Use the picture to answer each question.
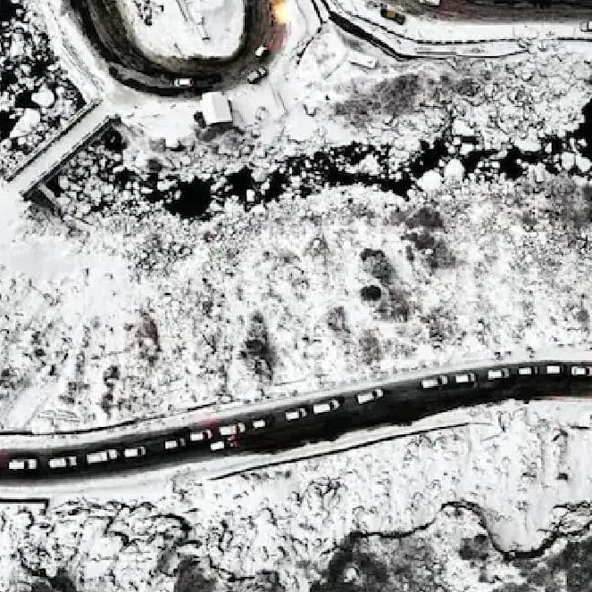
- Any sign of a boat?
No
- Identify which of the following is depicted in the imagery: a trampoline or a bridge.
bridge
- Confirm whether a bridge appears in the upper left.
Yes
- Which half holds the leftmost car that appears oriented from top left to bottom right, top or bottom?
top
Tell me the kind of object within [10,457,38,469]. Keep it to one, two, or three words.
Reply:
vehicle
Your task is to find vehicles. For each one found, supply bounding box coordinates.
[314,399,341,414]
[285,407,309,419]
[419,0,441,7]
[488,368,511,379]
[455,372,477,384]
[520,366,541,377]
[213,436,239,449]
[165,436,188,448]
[220,421,246,436]
[174,77,196,88]
[51,455,79,467]
[570,366,592,377]
[423,375,448,388]
[545,365,566,376]
[581,20,592,32]
[89,449,117,463]
[252,416,275,428]
[357,388,384,404]
[381,6,405,26]
[246,67,270,85]
[273,0,288,27]
[191,428,214,440]
[125,445,148,457]
[10,457,38,469]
